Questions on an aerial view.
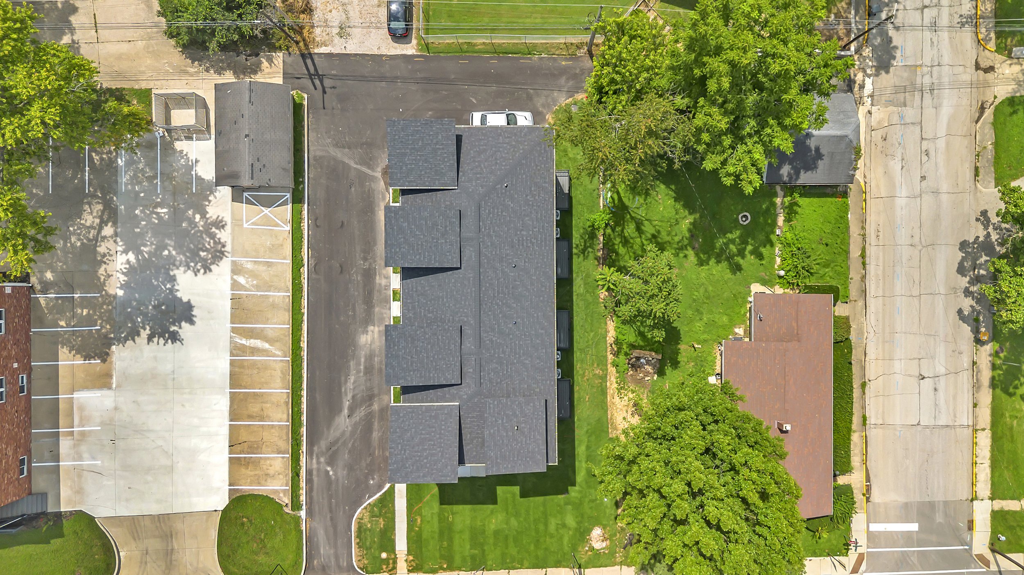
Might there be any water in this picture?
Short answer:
No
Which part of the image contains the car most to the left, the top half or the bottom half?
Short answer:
top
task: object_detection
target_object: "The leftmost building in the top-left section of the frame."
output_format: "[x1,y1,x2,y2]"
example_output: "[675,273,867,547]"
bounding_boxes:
[215,79,294,187]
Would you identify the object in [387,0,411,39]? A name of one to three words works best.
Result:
car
